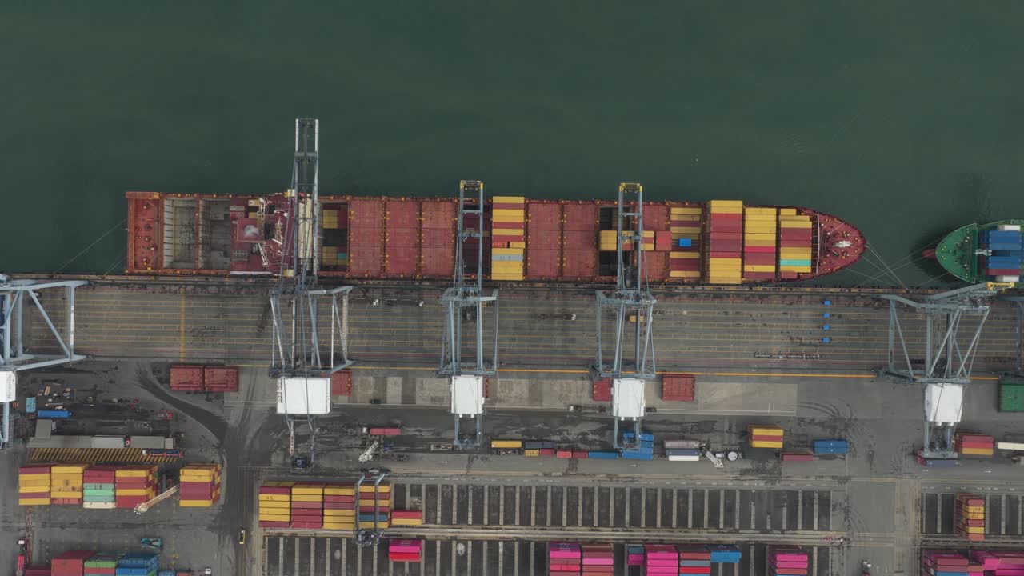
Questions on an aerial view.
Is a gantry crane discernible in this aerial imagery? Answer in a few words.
Yes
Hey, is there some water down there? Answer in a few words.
Yes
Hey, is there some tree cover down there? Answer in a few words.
No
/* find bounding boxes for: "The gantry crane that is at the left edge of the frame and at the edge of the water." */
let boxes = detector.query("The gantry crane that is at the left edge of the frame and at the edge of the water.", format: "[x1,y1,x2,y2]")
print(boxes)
[0,278,105,445]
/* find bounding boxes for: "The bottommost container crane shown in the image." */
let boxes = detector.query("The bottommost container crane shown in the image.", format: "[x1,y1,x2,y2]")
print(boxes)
[353,469,389,552]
